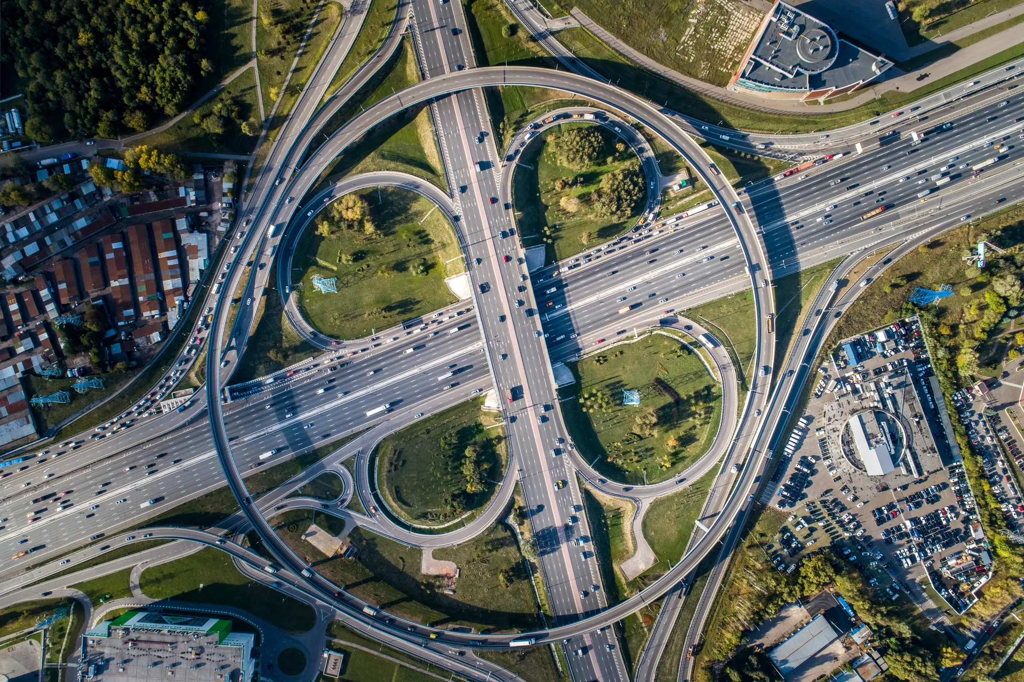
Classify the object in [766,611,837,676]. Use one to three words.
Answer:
building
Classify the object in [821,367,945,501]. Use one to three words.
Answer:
building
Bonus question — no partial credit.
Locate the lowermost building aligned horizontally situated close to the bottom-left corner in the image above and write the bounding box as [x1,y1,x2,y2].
[77,605,254,682]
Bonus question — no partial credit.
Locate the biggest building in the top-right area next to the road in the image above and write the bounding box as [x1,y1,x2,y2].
[731,1,894,104]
